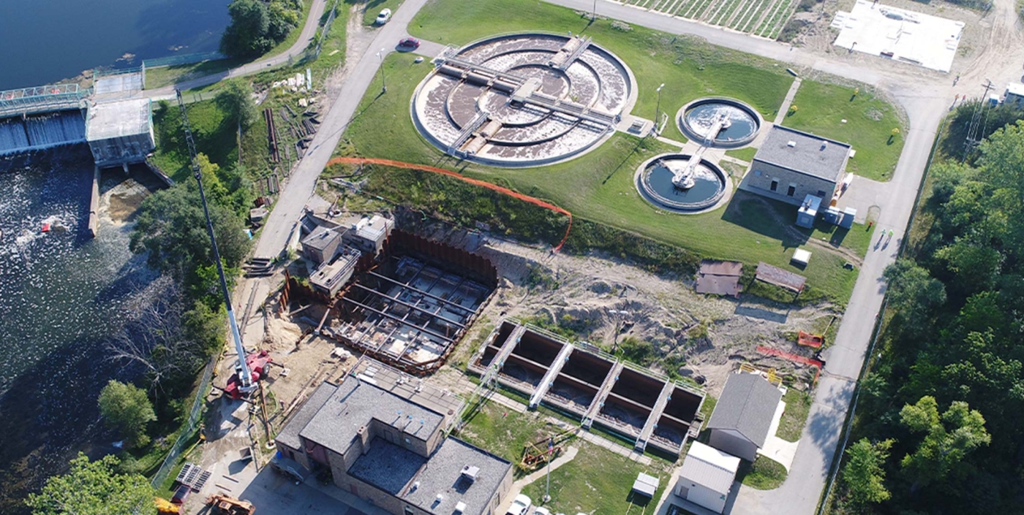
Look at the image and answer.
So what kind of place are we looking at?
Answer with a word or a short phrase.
industrial area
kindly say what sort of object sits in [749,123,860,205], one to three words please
building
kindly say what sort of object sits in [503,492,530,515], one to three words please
truck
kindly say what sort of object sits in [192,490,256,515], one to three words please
work vehicle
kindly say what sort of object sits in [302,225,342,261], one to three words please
building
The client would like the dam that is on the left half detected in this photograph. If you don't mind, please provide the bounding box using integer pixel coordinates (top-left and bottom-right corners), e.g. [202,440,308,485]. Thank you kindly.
[0,109,90,160]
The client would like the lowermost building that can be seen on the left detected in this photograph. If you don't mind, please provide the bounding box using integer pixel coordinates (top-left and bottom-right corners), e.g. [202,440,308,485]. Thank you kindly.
[276,368,513,515]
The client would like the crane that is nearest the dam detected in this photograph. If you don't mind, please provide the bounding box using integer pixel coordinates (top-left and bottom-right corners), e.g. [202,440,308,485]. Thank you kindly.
[173,88,293,416]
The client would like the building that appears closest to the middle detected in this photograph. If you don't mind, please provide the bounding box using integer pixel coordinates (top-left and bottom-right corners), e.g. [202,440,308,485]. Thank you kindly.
[353,214,394,248]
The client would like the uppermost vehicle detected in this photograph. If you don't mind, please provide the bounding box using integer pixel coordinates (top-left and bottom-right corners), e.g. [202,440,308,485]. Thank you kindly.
[376,9,390,22]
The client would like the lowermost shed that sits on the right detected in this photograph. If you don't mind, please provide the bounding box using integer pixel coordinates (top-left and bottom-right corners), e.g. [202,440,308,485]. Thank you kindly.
[677,441,741,512]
